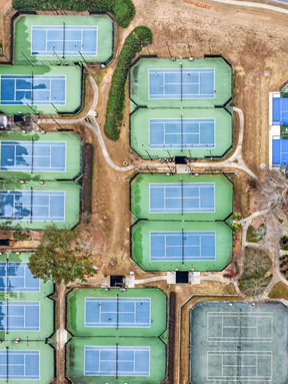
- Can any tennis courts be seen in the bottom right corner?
Yes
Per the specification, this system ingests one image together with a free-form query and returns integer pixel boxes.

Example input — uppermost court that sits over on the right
[130,57,231,106]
